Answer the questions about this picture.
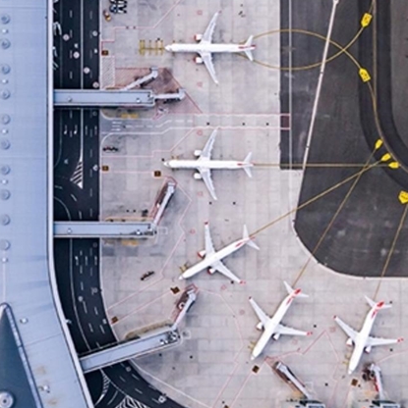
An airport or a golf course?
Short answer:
airport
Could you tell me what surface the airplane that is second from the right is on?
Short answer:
apron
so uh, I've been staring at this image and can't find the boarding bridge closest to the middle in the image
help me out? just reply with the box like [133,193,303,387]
[153,182,175,228]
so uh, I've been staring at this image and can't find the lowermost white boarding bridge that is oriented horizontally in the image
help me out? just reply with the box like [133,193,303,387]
[155,88,187,103]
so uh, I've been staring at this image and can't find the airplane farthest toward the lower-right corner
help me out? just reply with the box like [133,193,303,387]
[335,299,404,375]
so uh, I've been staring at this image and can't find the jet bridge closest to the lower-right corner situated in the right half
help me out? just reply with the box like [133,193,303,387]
[366,362,387,401]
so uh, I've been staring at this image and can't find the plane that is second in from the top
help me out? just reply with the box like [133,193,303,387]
[164,132,254,197]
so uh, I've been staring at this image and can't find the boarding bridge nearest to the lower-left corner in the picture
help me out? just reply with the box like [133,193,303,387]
[170,291,194,327]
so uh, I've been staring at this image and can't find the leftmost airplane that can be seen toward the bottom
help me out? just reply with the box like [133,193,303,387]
[180,220,259,283]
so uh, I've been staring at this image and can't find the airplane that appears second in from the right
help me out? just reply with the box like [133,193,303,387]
[248,283,312,360]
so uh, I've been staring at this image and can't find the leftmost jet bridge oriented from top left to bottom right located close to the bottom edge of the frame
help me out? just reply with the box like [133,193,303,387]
[274,361,312,400]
